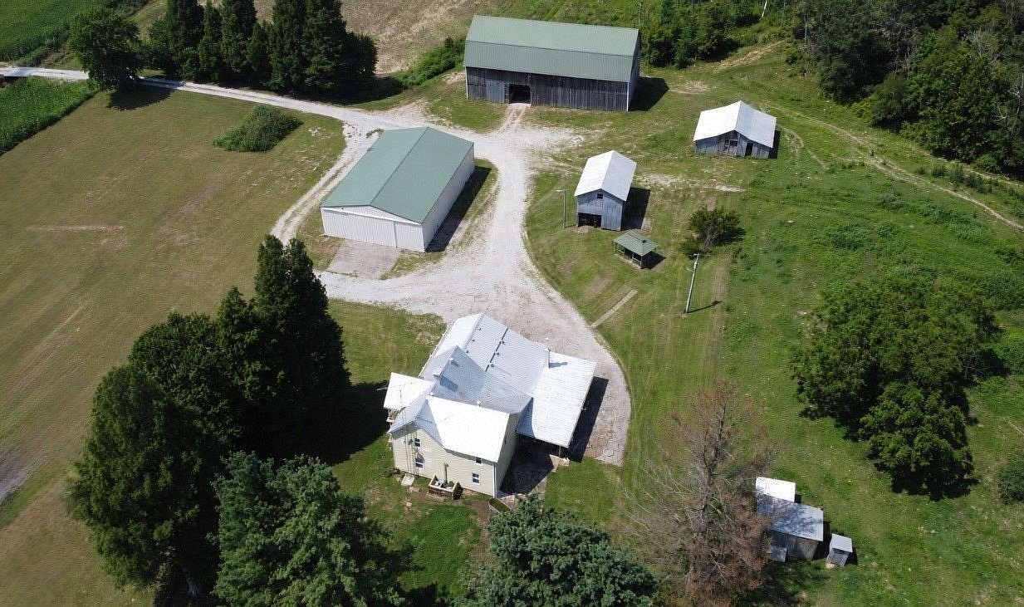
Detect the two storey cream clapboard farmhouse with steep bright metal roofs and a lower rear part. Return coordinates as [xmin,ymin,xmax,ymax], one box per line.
[377,313,599,494]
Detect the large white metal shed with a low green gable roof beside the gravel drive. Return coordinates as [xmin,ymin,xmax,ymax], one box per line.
[318,125,476,251]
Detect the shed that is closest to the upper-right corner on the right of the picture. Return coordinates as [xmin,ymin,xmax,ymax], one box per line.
[695,101,774,159]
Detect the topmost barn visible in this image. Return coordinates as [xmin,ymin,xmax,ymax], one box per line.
[462,14,644,113]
